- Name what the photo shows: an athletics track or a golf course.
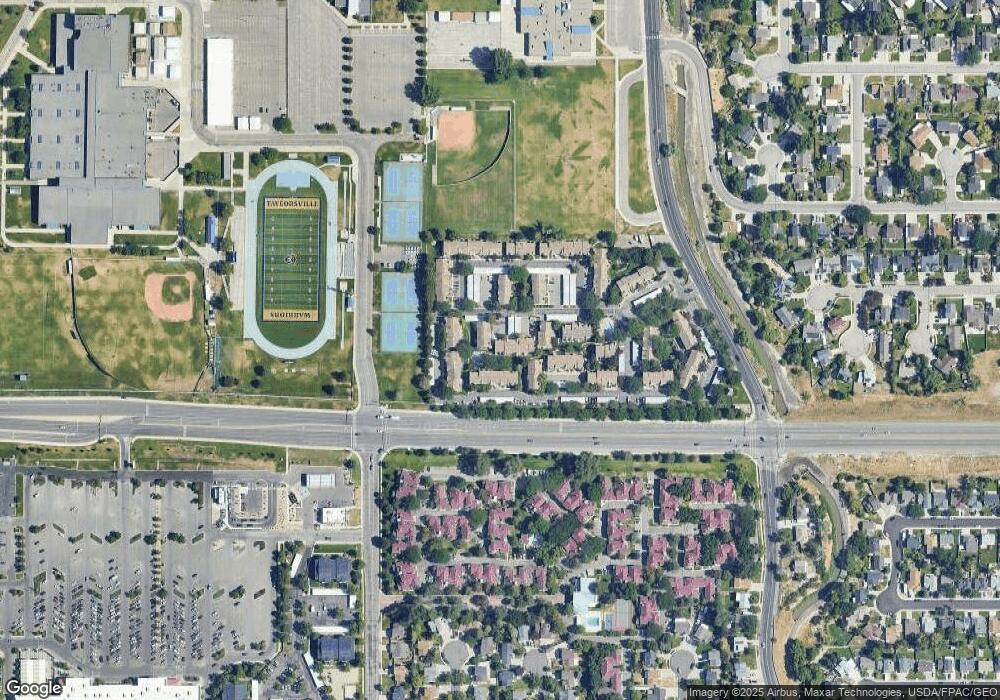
athletics track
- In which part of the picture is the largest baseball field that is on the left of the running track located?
left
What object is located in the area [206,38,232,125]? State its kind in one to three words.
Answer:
building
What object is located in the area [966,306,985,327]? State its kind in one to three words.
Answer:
house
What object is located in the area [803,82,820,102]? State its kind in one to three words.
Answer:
house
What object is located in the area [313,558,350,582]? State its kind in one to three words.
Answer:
building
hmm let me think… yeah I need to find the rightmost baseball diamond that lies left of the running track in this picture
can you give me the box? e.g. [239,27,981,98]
[146,271,194,335]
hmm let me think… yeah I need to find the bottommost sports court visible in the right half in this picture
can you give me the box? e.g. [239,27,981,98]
[601,599,632,631]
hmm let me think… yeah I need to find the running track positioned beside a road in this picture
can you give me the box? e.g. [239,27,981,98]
[244,160,338,359]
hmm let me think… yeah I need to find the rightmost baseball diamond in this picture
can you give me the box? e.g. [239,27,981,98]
[437,102,509,185]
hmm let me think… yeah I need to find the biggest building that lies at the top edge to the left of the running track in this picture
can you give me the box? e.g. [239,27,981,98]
[29,14,179,243]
